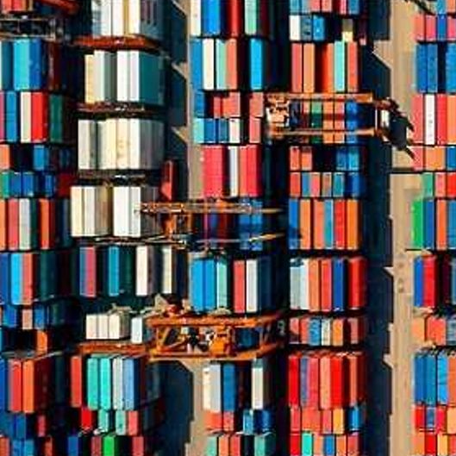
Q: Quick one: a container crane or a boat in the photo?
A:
container crane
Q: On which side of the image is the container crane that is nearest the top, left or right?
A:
left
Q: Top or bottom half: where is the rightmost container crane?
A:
top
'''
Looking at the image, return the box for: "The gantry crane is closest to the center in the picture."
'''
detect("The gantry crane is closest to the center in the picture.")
[143,198,284,249]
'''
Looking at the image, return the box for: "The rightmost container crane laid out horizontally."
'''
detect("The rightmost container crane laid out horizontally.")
[266,91,392,153]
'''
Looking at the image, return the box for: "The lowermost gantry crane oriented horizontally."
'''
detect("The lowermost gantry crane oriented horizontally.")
[148,296,287,357]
